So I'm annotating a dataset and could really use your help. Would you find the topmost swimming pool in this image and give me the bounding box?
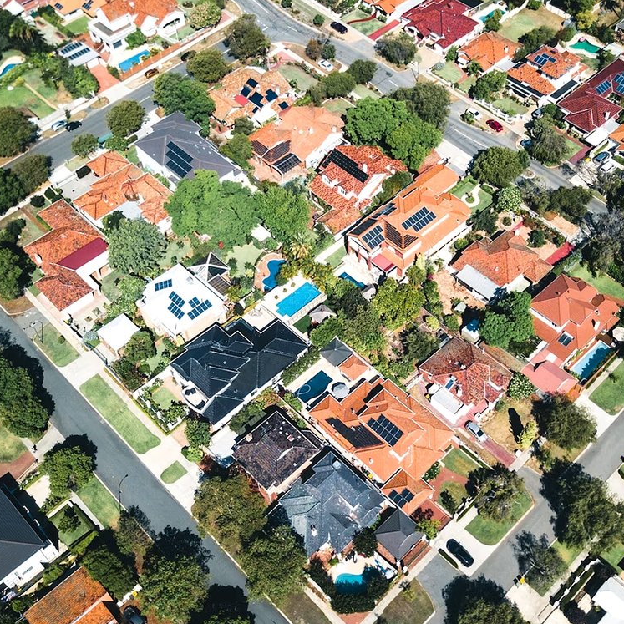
[474,2,509,27]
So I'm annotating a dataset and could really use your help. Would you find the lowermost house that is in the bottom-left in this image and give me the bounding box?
[23,566,123,624]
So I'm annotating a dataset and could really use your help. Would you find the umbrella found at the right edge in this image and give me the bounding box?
[610,329,624,345]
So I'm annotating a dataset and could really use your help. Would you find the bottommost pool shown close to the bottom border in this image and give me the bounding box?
[328,552,398,601]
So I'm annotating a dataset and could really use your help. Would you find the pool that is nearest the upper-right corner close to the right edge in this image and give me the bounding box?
[562,35,604,56]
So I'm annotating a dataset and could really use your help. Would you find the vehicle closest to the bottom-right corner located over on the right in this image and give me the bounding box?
[443,536,475,569]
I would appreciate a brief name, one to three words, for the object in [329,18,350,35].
car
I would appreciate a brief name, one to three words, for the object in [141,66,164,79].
vehicle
